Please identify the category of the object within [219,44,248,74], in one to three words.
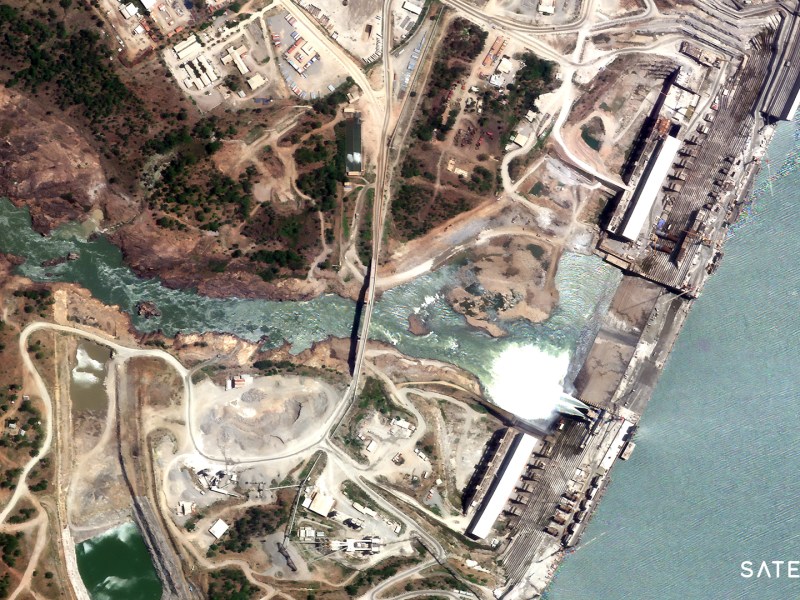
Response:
building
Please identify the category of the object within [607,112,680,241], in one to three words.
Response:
building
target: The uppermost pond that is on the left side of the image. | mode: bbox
[70,339,116,412]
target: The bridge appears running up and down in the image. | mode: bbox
[349,249,379,387]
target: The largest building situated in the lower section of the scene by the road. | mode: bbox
[463,424,537,539]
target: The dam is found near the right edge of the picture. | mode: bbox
[491,0,800,600]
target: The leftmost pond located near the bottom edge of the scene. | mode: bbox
[77,520,163,600]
